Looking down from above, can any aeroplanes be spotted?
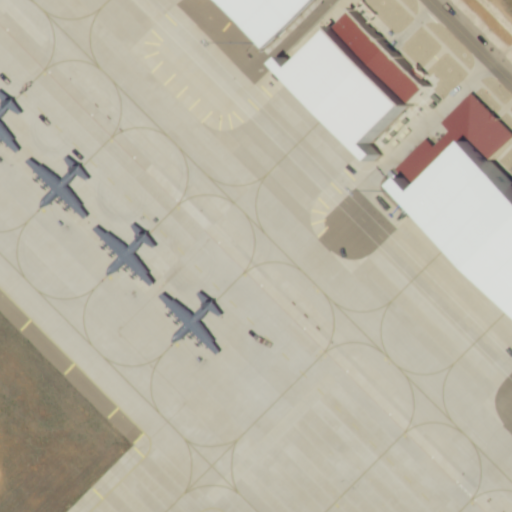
Yes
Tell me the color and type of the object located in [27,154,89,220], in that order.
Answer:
gray airplane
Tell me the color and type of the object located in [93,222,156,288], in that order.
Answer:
gray airplane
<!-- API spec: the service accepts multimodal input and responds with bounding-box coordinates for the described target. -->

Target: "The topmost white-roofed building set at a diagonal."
[265,30,404,160]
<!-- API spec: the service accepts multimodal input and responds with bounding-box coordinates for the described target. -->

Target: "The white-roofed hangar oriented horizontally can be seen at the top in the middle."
[212,0,314,48]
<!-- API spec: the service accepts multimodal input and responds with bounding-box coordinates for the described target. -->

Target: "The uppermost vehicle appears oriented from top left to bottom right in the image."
[442,2,457,16]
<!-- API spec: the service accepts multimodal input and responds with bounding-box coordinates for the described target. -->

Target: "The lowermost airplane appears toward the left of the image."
[159,290,222,355]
